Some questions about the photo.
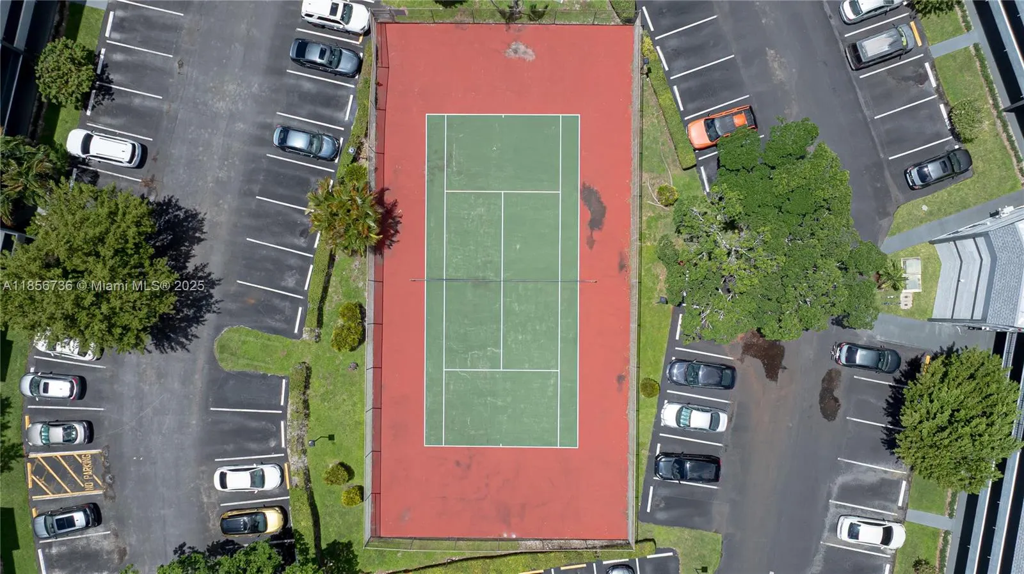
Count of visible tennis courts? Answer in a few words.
1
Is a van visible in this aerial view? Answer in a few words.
Yes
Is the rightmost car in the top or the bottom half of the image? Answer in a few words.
top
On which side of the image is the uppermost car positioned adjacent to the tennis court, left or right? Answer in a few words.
left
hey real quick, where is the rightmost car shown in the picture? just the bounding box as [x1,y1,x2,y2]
[901,149,971,189]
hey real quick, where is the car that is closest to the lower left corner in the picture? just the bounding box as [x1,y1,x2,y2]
[34,501,104,541]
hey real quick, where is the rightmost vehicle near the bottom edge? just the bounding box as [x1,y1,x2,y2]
[834,514,905,551]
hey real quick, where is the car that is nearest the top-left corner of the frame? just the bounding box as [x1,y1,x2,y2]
[68,128,144,169]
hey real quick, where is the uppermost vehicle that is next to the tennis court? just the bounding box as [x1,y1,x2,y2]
[299,0,370,34]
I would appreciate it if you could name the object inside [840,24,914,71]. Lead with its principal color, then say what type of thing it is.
gray van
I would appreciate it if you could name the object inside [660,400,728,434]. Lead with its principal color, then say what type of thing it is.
white car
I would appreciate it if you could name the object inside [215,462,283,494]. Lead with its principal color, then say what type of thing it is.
white car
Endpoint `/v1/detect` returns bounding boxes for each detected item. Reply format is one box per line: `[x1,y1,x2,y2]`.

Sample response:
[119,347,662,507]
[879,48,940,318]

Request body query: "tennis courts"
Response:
[372,21,634,541]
